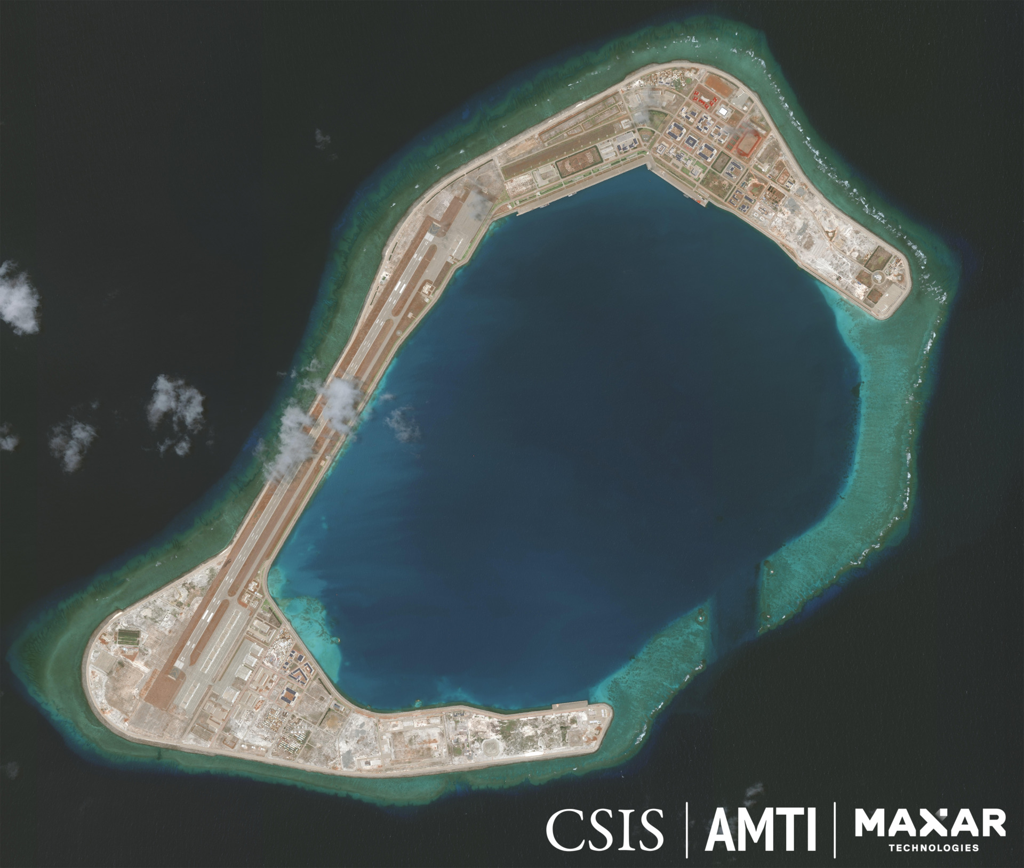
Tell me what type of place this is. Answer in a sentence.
This image shows a port.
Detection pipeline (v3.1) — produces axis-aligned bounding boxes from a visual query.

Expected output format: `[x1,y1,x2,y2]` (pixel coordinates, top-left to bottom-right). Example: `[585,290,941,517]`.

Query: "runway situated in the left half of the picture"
[166,218,442,683]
